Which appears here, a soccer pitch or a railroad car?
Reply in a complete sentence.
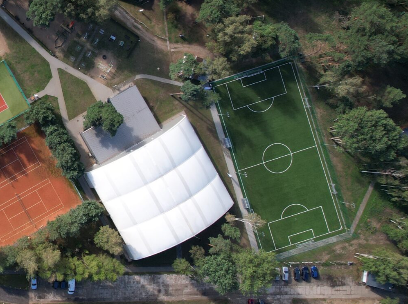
The one in the frame is a soccer pitch.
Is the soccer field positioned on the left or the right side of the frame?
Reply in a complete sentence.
The soccer field is on the right side of the image.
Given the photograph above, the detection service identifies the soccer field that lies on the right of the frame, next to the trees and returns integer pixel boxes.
[210,60,356,255]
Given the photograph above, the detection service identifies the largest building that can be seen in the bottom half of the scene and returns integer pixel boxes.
[85,115,233,259]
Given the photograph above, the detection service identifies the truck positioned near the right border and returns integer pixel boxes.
[356,268,392,292]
